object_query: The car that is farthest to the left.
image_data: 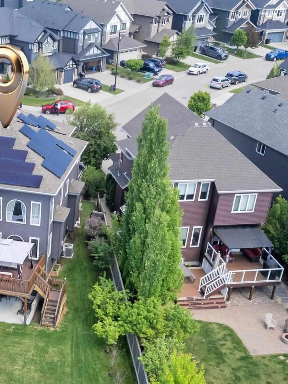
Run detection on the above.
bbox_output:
[42,97,74,111]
